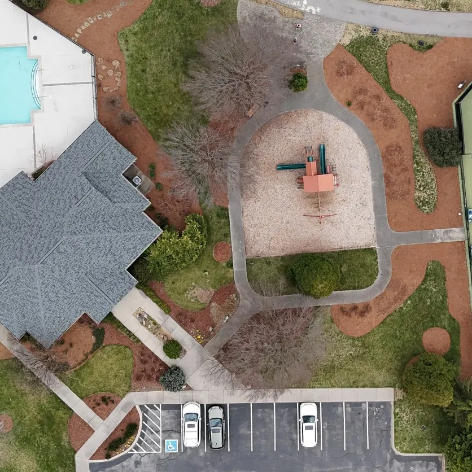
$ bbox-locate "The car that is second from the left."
[206,405,226,451]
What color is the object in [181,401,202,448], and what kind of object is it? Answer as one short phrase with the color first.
white car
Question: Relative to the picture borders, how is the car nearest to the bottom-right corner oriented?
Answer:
vertically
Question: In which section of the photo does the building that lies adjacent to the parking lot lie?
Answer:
left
